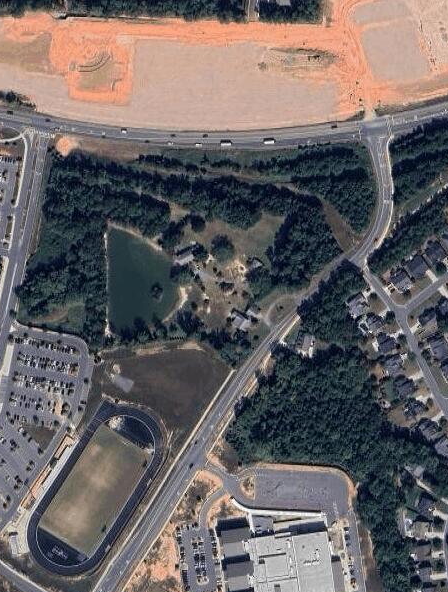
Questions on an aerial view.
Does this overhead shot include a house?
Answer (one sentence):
Yes, the frame does contain a house.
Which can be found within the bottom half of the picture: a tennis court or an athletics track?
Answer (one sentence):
You can see an athletics track within the bottom half of the picture.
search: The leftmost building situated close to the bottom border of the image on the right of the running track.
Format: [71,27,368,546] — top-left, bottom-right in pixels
[221,518,345,592]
